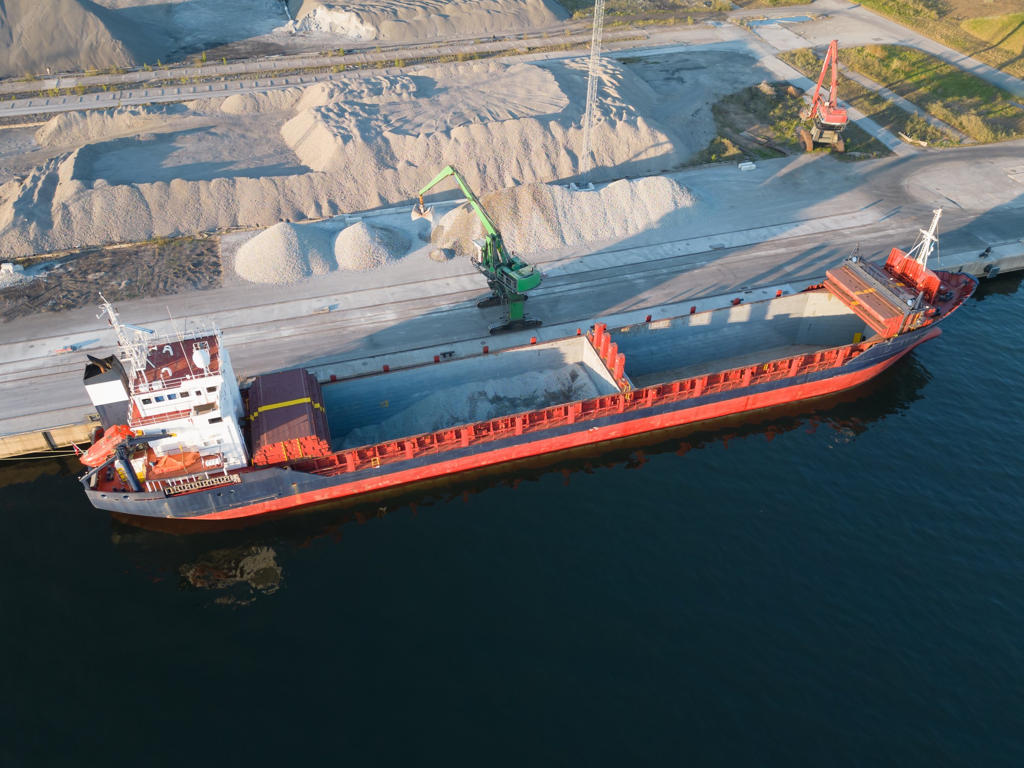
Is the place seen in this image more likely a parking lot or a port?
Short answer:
port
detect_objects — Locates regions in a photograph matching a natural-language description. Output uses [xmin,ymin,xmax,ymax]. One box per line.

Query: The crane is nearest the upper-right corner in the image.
[779,37,855,149]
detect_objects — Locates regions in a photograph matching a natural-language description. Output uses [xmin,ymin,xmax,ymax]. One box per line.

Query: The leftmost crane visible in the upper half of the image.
[411,160,544,331]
